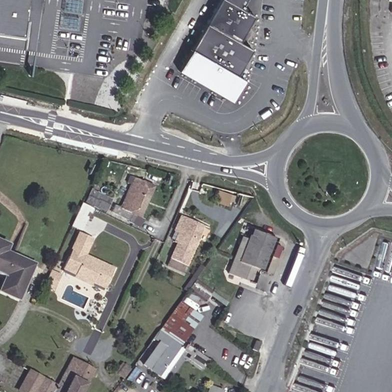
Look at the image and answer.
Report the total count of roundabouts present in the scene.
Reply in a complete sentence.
The count comes to 1 roundabout.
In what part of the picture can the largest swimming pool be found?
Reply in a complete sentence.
The largest swimming pool is located in the bottom left region of the scene.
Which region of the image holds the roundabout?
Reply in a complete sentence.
The roundabout appears toward the right of the photo.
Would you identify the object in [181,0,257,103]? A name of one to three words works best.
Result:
building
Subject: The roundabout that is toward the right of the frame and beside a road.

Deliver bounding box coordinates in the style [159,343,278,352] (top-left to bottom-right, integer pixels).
[267,114,390,236]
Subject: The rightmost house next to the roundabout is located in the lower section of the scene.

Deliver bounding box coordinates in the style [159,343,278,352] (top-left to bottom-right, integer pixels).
[229,228,279,280]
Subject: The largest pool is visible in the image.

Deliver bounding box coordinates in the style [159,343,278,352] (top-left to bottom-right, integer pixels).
[62,285,88,307]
